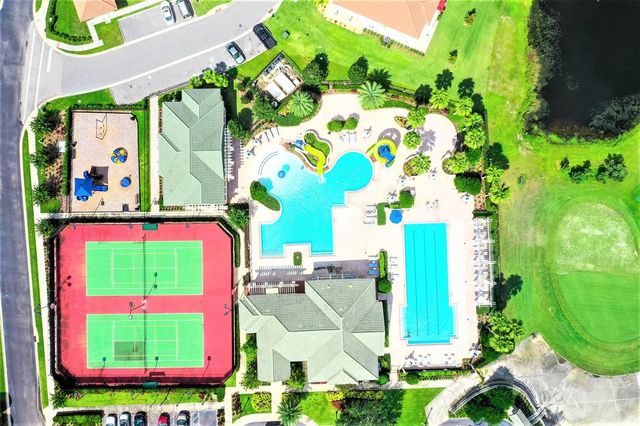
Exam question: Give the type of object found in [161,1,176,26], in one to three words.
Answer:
car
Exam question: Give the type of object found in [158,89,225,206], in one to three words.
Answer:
building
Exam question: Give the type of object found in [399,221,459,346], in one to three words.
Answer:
swimming pool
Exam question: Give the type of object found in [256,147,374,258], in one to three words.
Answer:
swimming pool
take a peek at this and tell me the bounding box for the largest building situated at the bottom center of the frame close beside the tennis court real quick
[239,279,386,387]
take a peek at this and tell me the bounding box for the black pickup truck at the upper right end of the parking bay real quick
[253,22,277,51]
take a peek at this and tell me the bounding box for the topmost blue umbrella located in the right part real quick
[389,209,402,222]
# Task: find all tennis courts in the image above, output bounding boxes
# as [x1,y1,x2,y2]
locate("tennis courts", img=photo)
[58,223,232,384]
